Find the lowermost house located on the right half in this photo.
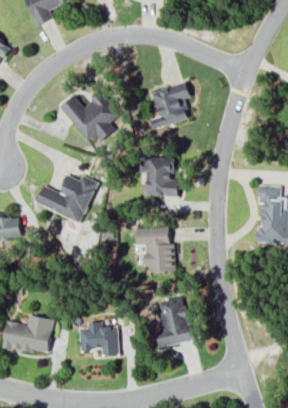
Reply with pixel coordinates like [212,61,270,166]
[156,296,194,348]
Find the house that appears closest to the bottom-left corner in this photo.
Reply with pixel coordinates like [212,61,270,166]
[2,316,54,355]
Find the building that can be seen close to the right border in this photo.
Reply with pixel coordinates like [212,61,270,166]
[256,186,288,244]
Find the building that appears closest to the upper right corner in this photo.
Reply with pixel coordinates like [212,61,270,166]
[150,82,192,130]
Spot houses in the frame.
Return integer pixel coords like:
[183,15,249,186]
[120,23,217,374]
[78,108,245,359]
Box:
[0,214,19,248]
[256,186,288,244]
[150,82,192,130]
[26,0,68,26]
[2,316,54,355]
[135,228,176,274]
[36,173,100,222]
[156,296,194,348]
[140,158,178,197]
[62,92,118,138]
[80,322,119,360]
